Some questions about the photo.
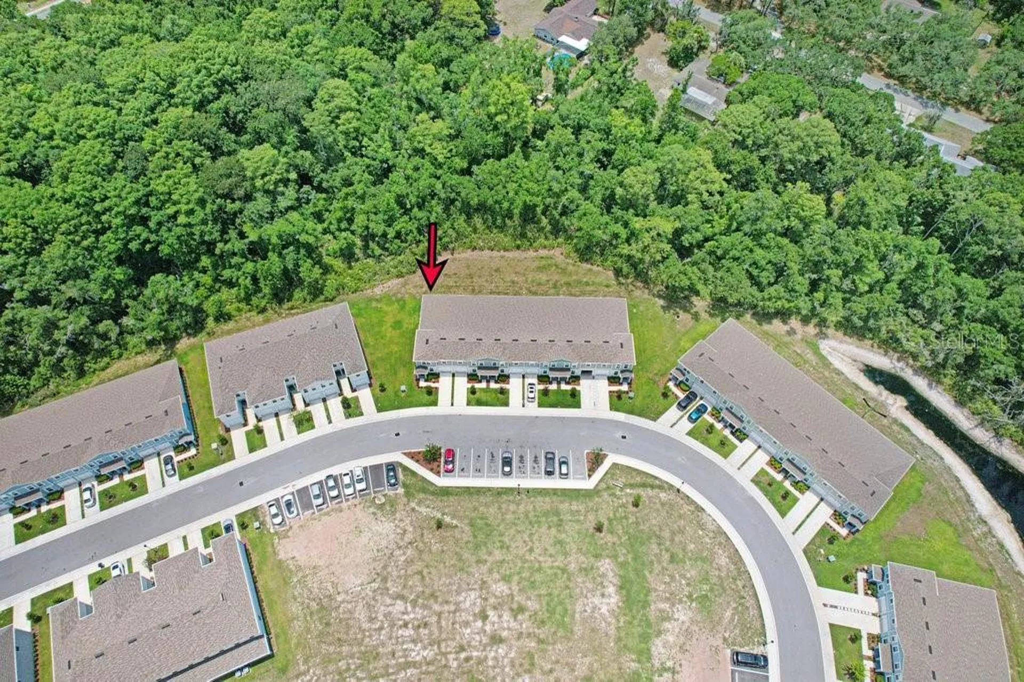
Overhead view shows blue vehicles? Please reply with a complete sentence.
Yes, a blue vehicle is visible in the scene.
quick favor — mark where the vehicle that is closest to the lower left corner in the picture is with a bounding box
[109,558,127,579]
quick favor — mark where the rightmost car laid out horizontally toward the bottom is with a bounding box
[734,652,765,668]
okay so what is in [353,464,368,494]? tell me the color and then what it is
white vehicle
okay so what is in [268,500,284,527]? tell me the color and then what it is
white car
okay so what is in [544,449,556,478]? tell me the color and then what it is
gray vehicle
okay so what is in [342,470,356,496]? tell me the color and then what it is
white car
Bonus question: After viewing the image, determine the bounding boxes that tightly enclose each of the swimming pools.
[553,50,578,68]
